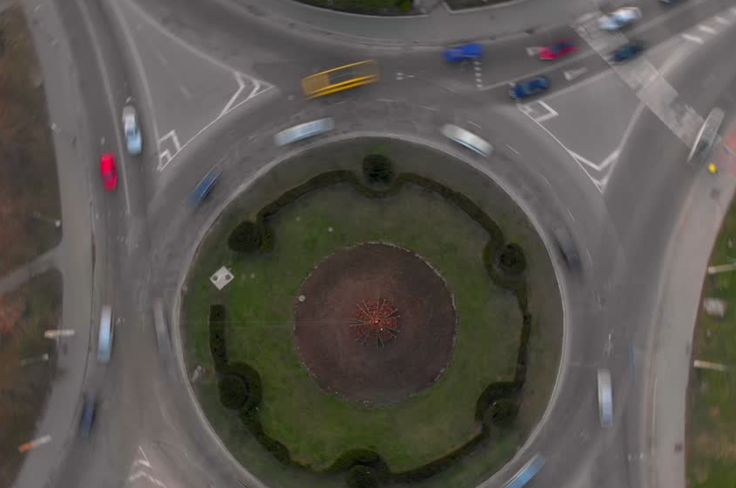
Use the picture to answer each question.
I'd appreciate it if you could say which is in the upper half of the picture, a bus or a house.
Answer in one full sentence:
Visible in the upper half of the picture is a bus.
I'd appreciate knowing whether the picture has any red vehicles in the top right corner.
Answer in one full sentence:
Yes, looking in the top right corner, one can make out a red vehicle.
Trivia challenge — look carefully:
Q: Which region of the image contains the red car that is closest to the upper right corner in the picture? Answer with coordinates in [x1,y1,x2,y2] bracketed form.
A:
[537,37,578,61]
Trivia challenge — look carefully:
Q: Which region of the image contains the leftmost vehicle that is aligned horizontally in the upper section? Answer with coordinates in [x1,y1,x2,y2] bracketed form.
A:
[275,117,333,144]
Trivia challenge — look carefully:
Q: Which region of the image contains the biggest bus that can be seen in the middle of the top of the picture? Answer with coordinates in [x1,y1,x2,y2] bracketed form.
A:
[301,60,379,97]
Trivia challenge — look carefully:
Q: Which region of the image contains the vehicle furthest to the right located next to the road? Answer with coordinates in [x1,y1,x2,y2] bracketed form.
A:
[680,107,724,165]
